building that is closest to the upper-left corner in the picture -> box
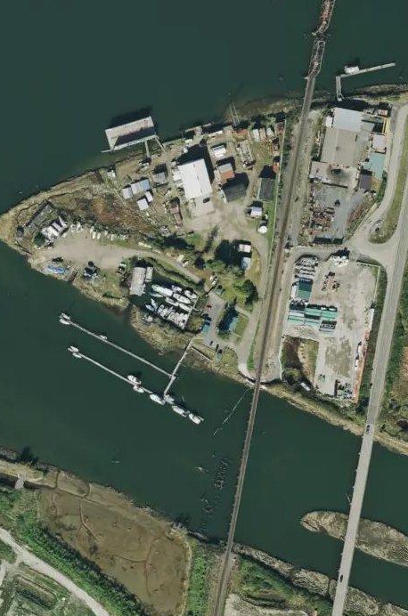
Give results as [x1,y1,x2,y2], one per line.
[104,117,159,151]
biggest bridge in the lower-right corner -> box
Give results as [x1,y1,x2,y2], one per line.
[332,429,375,615]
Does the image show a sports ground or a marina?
marina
